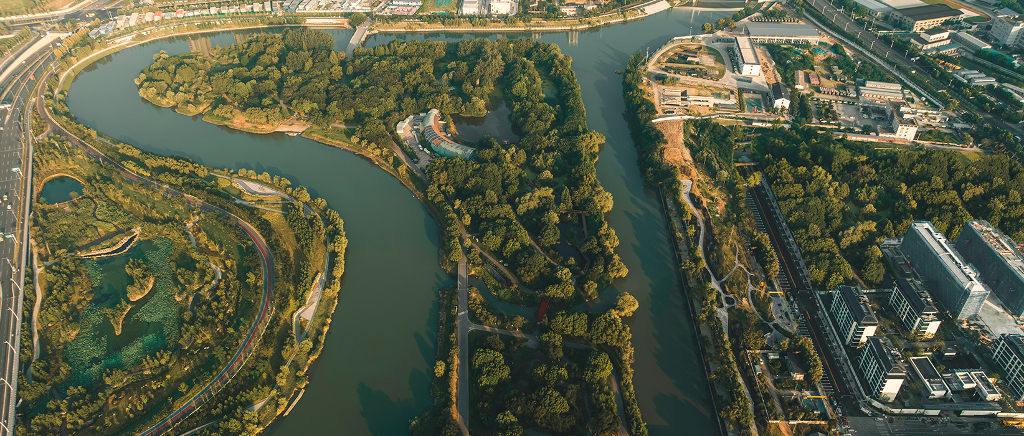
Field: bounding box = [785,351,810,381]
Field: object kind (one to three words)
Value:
house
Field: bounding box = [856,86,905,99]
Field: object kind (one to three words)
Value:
shed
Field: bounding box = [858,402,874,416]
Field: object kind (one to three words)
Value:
vehicle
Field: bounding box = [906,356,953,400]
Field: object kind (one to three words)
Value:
building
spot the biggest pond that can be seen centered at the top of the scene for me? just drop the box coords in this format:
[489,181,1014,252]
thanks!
[455,90,520,142]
